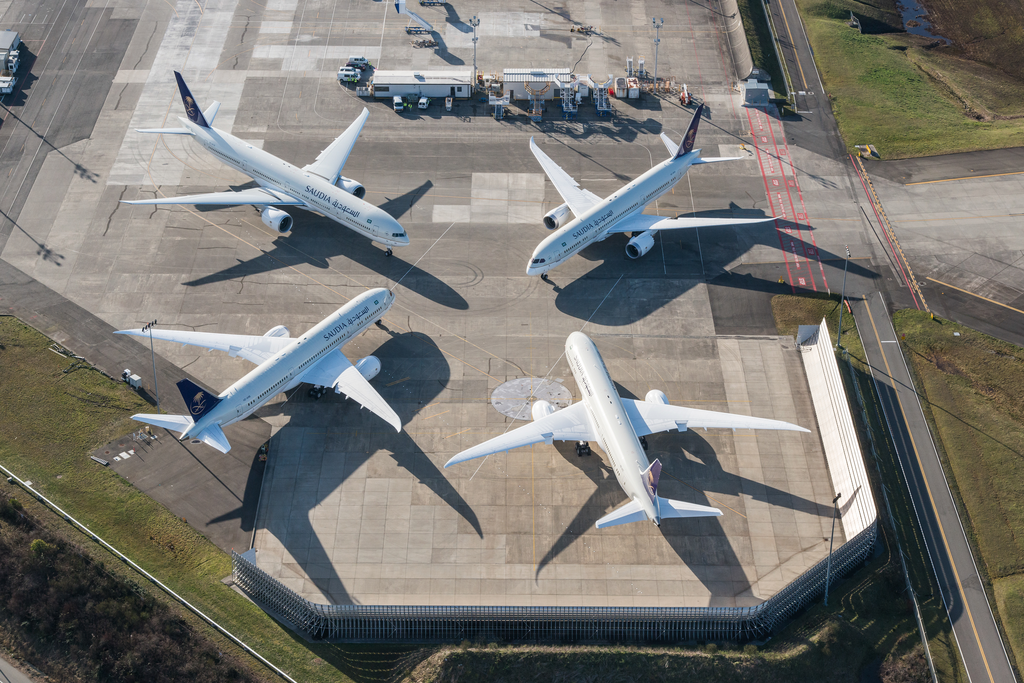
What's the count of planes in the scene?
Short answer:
4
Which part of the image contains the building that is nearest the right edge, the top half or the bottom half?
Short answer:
top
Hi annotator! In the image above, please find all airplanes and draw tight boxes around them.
[119,71,410,254]
[114,287,401,454]
[525,103,781,280]
[445,330,810,529]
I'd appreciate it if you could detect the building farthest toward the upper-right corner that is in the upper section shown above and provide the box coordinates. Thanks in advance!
[740,76,770,102]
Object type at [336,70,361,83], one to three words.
vehicle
